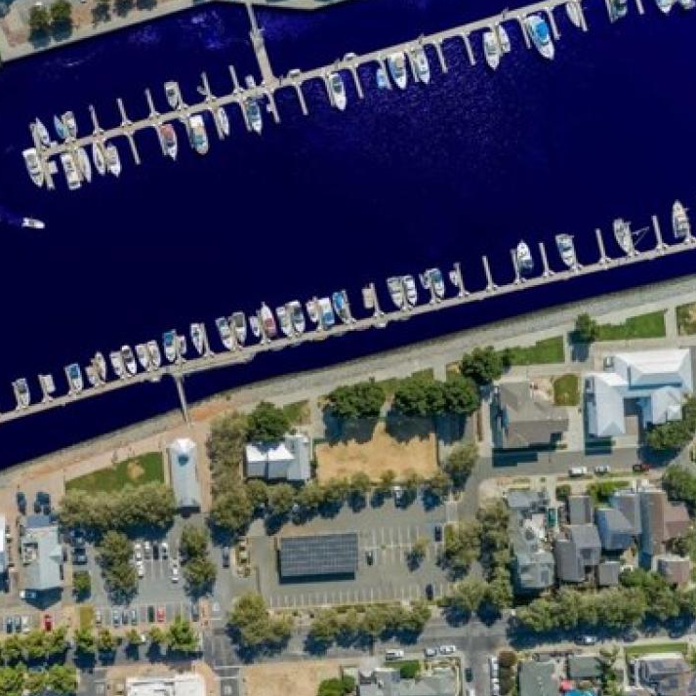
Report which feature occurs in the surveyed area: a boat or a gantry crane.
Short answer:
boat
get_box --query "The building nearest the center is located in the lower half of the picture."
[245,433,311,481]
